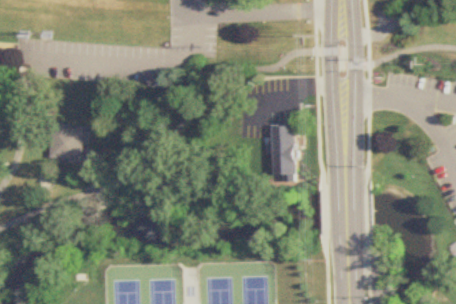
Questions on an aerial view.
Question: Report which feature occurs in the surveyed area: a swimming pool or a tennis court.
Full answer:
The one in the frame is a tennis court.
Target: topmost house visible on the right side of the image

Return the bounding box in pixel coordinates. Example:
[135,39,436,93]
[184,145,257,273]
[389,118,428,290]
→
[270,126,307,182]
